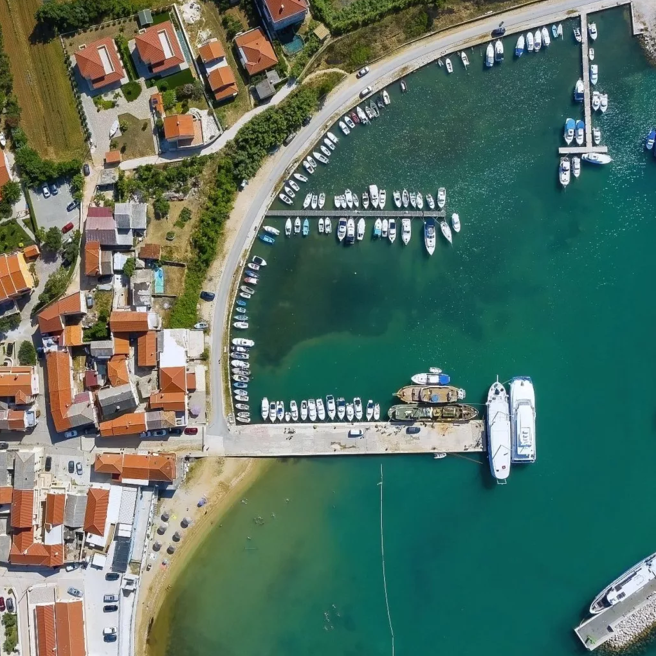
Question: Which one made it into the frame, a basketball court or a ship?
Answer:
ship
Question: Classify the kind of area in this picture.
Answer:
residential area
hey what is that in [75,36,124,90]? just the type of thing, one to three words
house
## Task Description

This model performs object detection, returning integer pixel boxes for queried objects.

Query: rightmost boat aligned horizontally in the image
[581,151,613,163]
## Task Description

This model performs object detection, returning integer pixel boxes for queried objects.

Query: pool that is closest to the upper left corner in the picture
[176,28,191,63]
